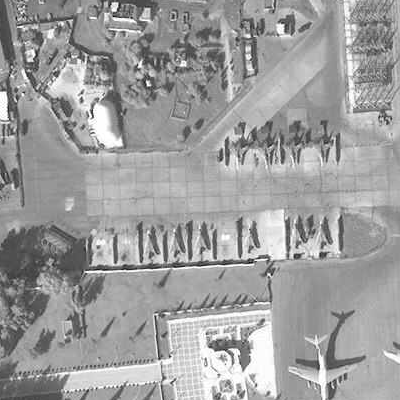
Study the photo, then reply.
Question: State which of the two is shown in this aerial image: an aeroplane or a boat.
aeroplane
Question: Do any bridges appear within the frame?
No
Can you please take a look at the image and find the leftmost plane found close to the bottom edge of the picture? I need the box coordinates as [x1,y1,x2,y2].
[287,333,357,400]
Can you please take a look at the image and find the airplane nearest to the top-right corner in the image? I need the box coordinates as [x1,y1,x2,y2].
[311,134,333,165]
